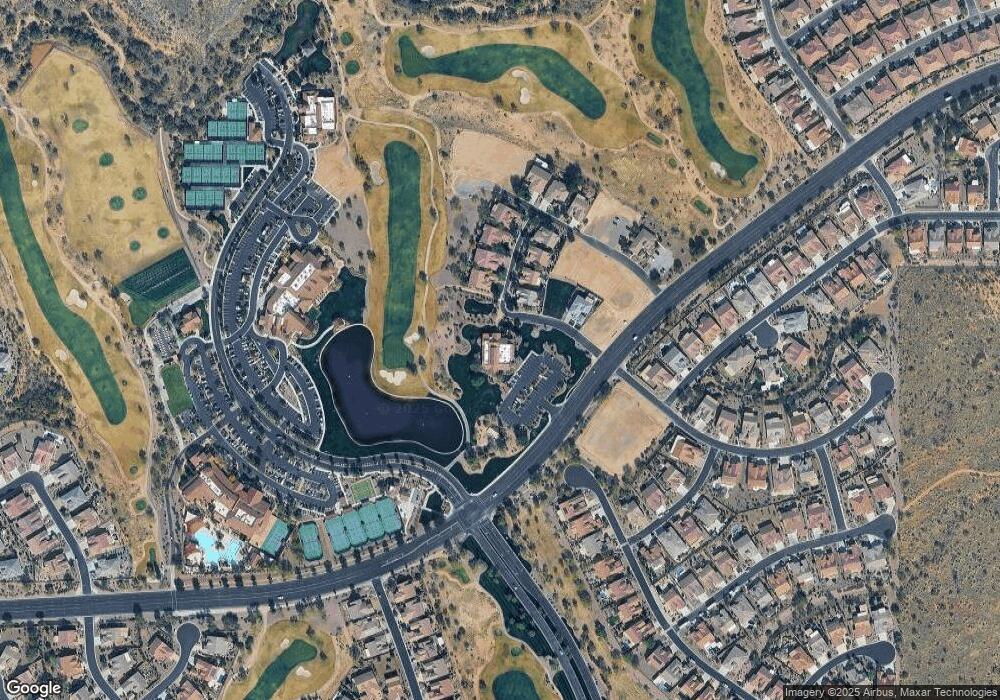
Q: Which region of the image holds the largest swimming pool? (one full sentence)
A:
The largest swimming pool sits in the bottom left section of the image.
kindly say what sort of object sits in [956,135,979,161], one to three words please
house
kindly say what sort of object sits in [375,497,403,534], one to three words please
tennis court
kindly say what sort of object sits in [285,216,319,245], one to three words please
roundabout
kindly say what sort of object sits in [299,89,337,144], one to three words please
building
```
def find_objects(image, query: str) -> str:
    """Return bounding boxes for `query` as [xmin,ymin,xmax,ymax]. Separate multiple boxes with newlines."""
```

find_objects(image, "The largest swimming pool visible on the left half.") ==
[190,525,248,571]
